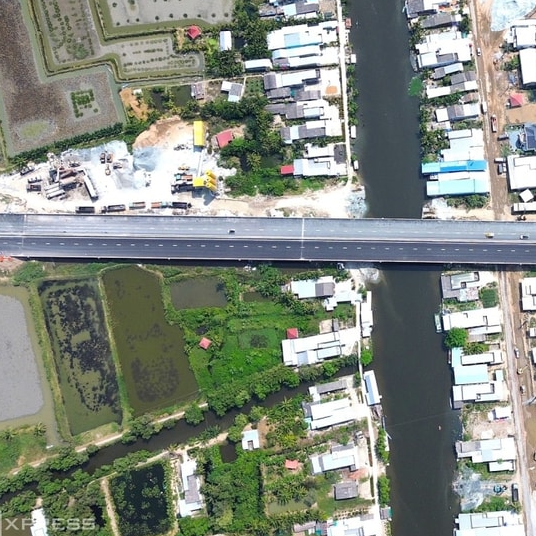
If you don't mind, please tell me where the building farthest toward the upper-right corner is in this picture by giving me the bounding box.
[506,19,536,49]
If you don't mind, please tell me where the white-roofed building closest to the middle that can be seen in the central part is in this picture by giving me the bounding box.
[281,276,335,298]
